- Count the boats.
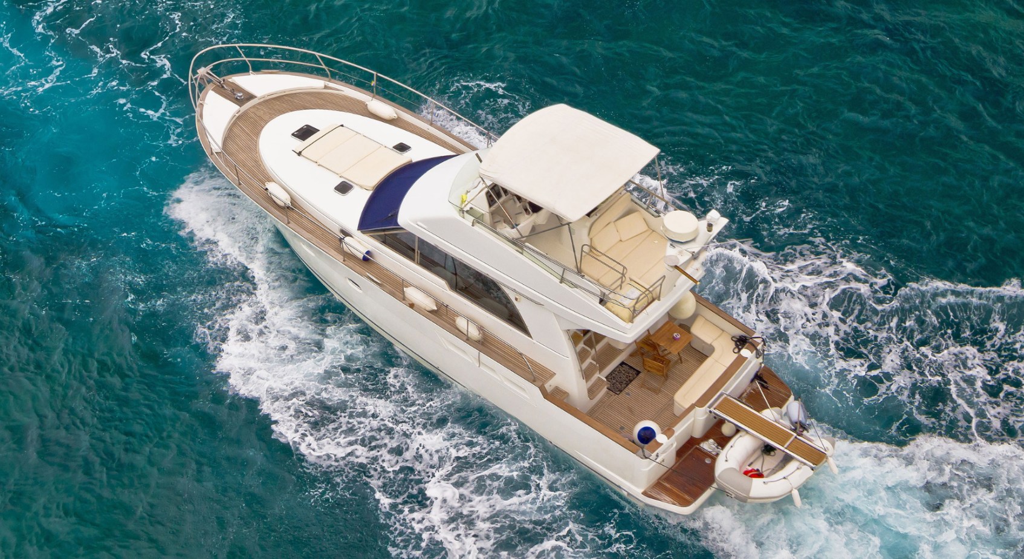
2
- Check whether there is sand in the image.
No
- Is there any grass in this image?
No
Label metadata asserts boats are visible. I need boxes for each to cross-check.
[184,42,827,522]
[710,406,844,507]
